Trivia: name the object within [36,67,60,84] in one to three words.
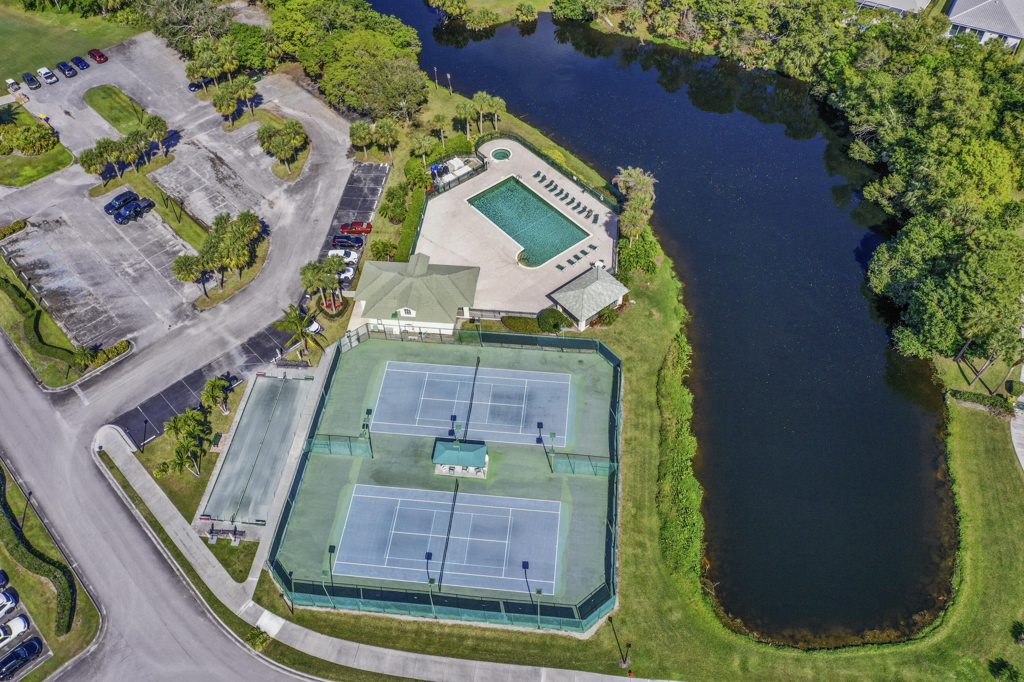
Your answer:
vehicle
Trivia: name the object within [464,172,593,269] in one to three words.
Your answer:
swimming pool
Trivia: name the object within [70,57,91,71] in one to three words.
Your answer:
car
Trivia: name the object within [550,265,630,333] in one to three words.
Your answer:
building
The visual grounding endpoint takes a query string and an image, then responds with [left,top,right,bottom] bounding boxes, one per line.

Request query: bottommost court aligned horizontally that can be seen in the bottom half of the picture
[274,453,618,632]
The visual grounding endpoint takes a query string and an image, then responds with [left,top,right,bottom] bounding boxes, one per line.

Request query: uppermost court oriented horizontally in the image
[315,338,621,478]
